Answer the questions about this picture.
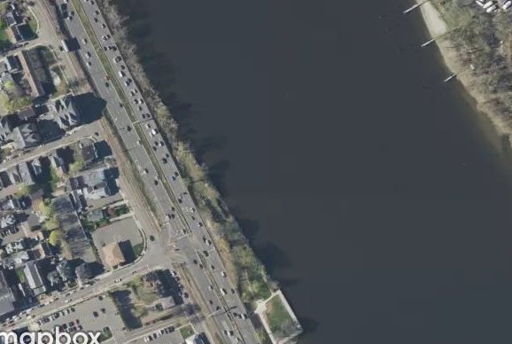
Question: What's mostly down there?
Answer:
water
